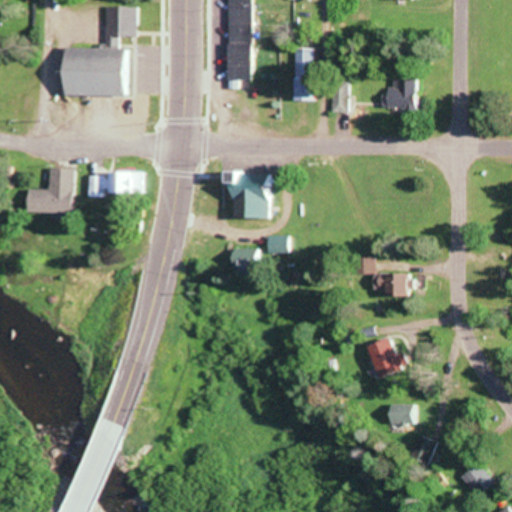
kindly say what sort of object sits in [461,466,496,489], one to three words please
house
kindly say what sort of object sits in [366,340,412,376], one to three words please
house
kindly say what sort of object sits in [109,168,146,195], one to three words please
building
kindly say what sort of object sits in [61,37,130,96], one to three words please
building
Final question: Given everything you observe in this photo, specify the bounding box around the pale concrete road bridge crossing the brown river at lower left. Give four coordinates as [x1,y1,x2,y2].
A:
[58,407,128,512]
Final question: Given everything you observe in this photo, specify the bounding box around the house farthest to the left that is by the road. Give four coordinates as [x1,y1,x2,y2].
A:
[25,168,77,214]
